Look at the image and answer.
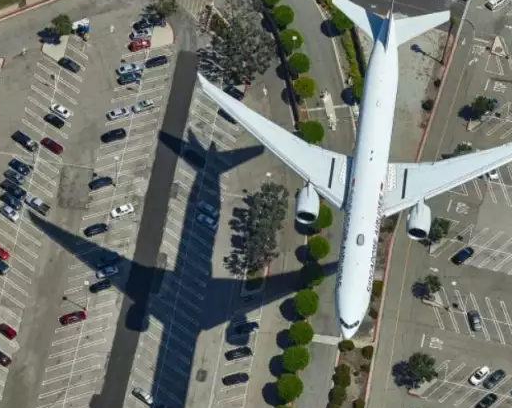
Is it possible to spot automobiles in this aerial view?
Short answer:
Yes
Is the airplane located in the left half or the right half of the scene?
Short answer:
right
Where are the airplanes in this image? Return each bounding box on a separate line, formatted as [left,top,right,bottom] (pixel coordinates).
[198,0,512,341]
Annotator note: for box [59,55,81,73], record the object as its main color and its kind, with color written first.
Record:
black car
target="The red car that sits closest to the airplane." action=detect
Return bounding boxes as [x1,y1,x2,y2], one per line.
[128,38,152,52]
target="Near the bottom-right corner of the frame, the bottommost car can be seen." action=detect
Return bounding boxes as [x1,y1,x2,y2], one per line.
[476,393,497,408]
